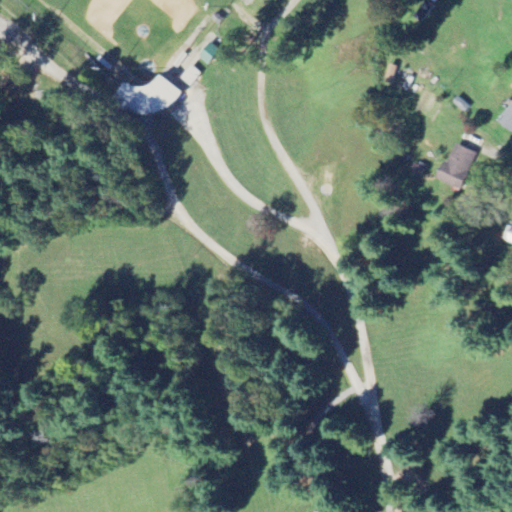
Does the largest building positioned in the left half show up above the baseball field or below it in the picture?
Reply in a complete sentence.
The position of the largest building positioned in the left half is below the baseball field.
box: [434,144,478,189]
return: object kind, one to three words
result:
house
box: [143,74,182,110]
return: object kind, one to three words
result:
building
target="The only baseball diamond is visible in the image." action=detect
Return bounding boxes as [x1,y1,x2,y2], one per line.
[86,0,198,74]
